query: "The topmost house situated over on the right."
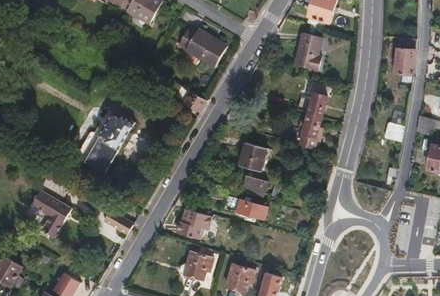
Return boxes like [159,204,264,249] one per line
[306,0,340,26]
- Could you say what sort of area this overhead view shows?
residential area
